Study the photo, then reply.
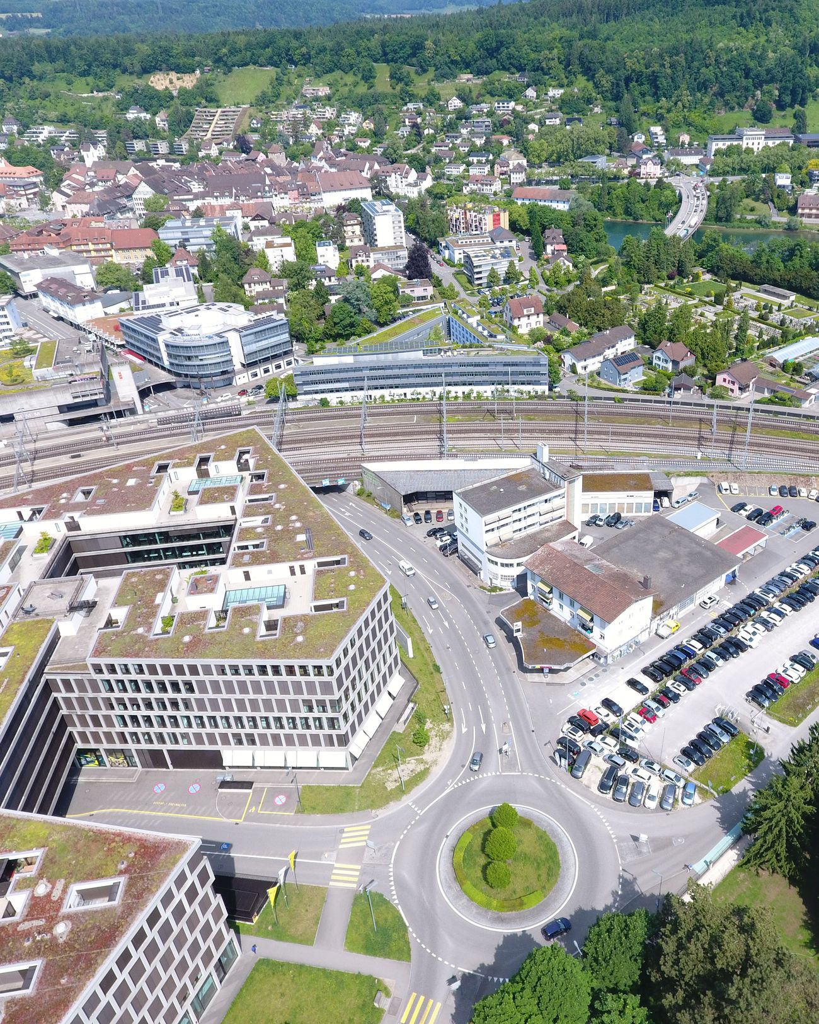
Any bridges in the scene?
Yes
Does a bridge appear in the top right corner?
Yes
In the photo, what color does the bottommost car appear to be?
blue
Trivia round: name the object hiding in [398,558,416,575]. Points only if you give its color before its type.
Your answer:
white vehicle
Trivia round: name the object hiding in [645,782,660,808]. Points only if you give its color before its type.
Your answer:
white car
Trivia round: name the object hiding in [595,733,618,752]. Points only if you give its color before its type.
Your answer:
white car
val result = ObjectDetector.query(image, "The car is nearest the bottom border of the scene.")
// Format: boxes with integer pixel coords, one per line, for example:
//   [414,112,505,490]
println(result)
[539,914,574,942]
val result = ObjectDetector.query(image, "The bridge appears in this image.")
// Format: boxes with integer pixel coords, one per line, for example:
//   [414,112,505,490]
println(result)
[652,182,707,253]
